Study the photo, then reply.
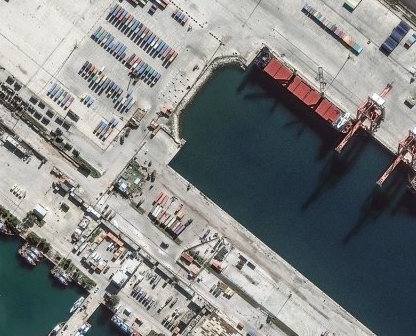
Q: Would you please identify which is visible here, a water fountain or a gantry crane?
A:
gantry crane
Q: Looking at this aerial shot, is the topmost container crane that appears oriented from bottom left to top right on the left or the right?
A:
right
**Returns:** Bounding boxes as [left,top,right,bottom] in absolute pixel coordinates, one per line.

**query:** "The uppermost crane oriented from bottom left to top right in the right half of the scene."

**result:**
[335,83,392,151]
